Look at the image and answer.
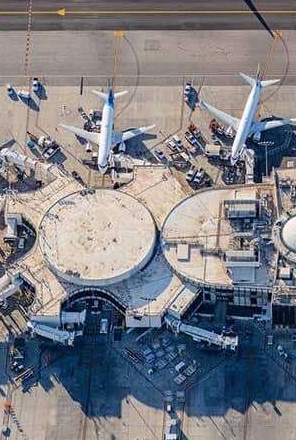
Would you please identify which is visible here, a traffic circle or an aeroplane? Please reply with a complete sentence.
There is an aeroplane in the scene.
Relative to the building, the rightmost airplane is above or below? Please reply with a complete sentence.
The position of the rightmost airplane is above the building.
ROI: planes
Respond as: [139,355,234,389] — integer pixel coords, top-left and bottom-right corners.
[59,83,155,175]
[199,64,296,165]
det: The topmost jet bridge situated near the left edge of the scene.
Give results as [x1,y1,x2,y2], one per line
[0,151,53,180]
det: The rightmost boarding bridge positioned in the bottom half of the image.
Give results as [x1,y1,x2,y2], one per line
[161,315,244,354]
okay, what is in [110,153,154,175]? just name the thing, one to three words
jet bridge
